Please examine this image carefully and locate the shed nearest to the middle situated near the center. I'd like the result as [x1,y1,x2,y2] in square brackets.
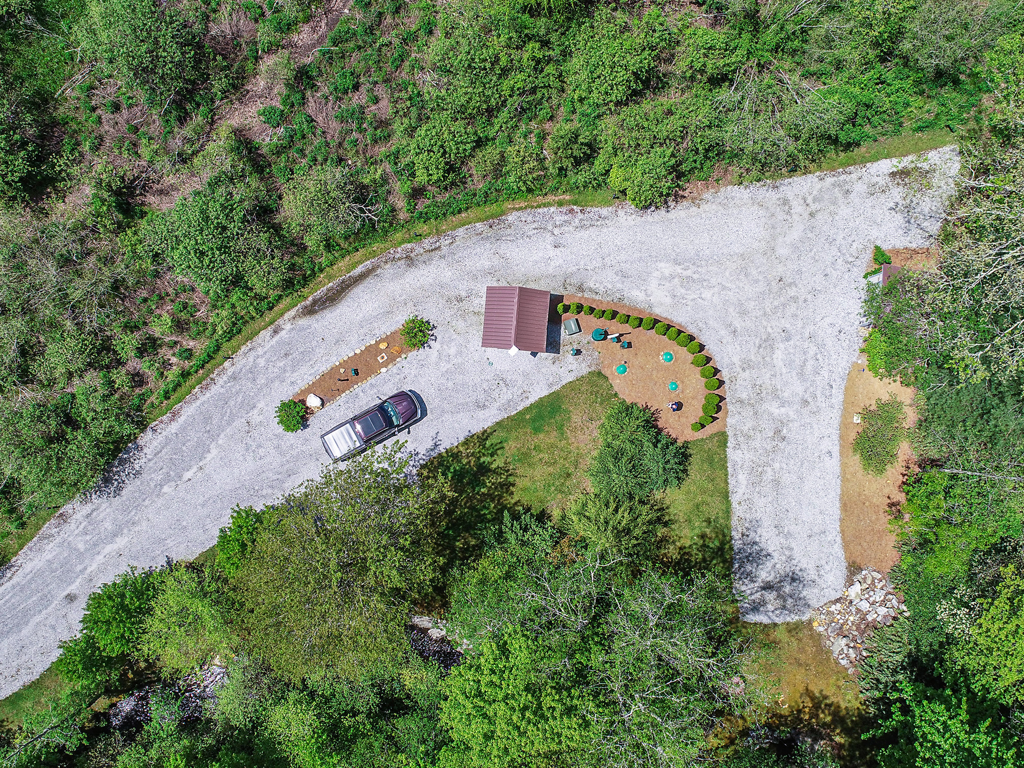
[481,286,551,352]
